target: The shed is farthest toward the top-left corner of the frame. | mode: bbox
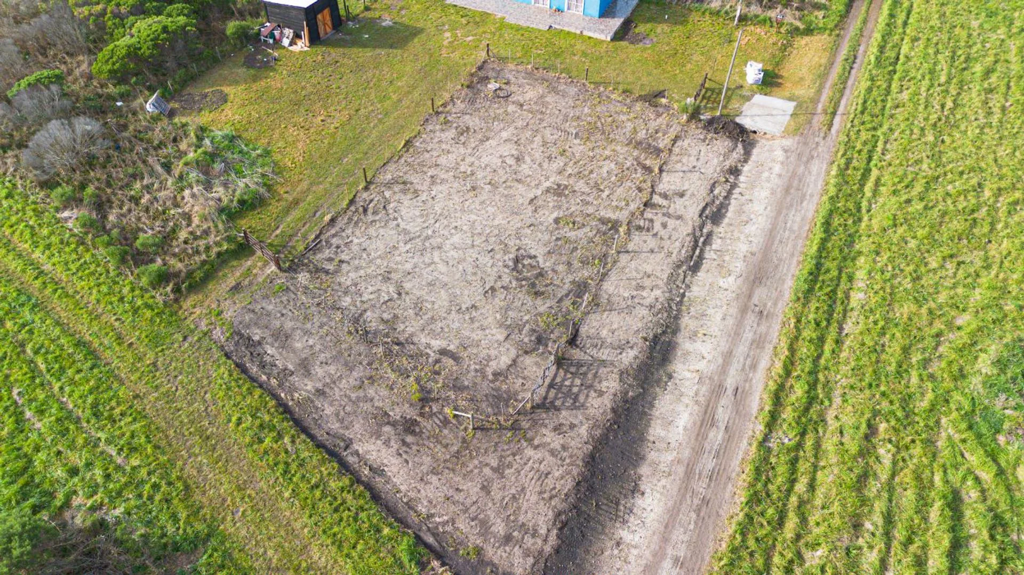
[270,0,341,43]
